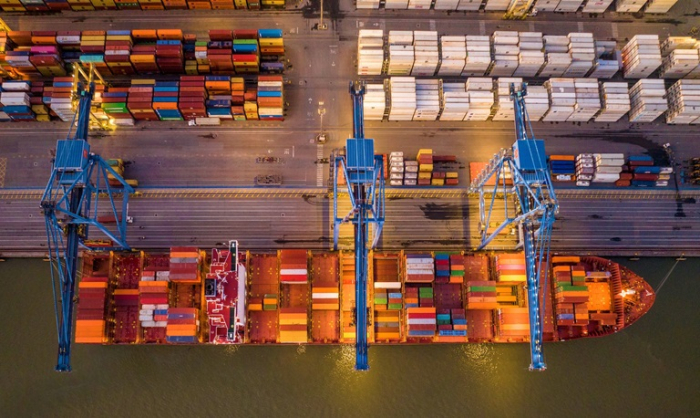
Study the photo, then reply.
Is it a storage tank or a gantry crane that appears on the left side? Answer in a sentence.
The feature located on the left side is a gantry crane.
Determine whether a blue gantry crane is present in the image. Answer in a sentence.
Yes, there's a blue gantry crane down there.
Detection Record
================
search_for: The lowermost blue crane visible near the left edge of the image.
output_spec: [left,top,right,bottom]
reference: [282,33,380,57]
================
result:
[35,80,145,374]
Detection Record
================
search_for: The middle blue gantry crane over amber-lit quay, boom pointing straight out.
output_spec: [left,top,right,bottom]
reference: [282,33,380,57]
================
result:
[322,81,386,371]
